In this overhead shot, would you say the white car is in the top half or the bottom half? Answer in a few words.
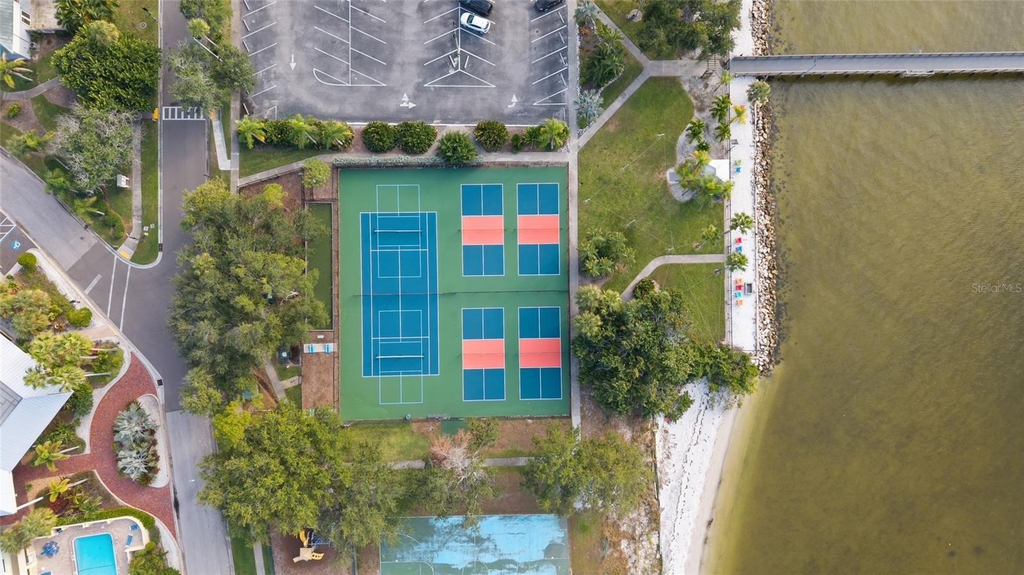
top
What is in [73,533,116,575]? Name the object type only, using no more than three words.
swimming pool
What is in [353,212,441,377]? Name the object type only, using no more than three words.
tennis court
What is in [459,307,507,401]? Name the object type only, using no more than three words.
sports court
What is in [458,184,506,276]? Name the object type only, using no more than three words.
sports court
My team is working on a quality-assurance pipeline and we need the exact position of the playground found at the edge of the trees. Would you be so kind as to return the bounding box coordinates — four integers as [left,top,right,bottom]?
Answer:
[292,531,330,565]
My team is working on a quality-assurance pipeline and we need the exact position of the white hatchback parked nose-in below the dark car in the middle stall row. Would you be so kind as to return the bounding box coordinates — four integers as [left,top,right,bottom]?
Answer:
[460,12,492,34]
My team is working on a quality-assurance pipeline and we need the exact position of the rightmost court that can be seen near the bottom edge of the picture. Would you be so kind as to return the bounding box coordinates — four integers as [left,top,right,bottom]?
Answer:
[380,514,569,575]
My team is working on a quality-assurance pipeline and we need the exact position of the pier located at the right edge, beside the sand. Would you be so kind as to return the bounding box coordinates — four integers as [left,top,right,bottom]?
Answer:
[728,51,1024,79]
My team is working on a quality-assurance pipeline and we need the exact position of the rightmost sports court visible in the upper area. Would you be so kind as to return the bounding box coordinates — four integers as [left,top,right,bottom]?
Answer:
[514,183,562,275]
